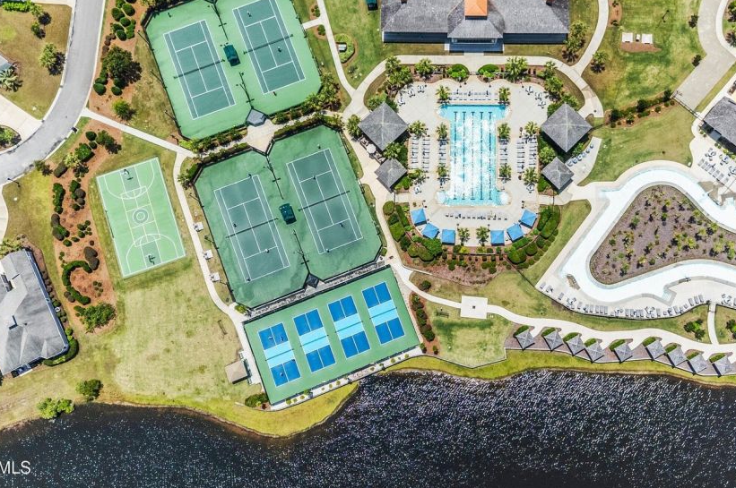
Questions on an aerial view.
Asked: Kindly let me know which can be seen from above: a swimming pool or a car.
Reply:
swimming pool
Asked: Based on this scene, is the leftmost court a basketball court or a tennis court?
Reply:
basketball court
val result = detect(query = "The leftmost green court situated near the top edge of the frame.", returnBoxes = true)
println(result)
[145,0,253,136]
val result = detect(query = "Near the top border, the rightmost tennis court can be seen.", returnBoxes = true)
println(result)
[214,0,319,112]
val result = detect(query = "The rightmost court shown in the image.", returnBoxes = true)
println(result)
[362,282,404,344]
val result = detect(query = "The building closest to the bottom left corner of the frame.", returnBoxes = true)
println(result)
[0,248,70,378]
